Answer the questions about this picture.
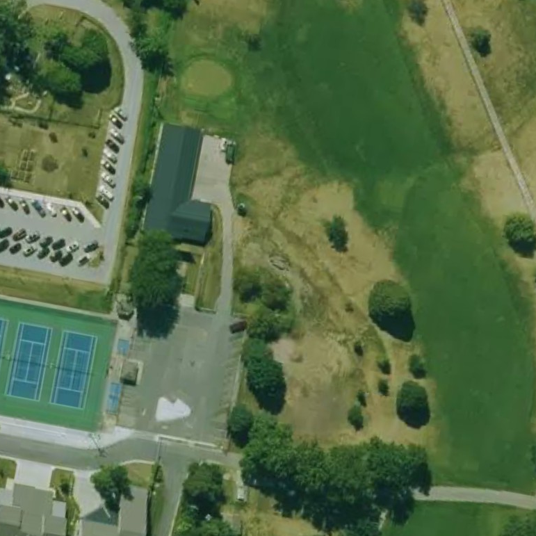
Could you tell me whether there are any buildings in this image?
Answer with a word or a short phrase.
Yes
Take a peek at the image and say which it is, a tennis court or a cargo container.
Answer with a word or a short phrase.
tennis court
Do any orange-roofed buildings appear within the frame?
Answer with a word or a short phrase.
No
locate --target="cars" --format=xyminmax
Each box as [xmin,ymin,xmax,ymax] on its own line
[39,236,53,247]
[50,238,65,250]
[229,322,246,331]
[113,108,127,121]
[101,161,115,173]
[72,207,84,222]
[101,174,115,186]
[97,195,111,208]
[0,227,12,239]
[36,247,51,259]
[59,252,74,264]
[0,240,10,250]
[65,241,80,253]
[8,242,23,254]
[49,250,63,262]
[13,228,27,240]
[5,197,17,211]
[105,139,121,153]
[60,207,72,222]
[25,232,40,242]
[109,114,123,127]
[84,240,98,252]
[45,202,57,216]
[32,199,45,216]
[18,199,30,214]
[99,185,113,199]
[111,129,125,142]
[76,254,91,266]
[22,246,36,257]
[103,150,117,163]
